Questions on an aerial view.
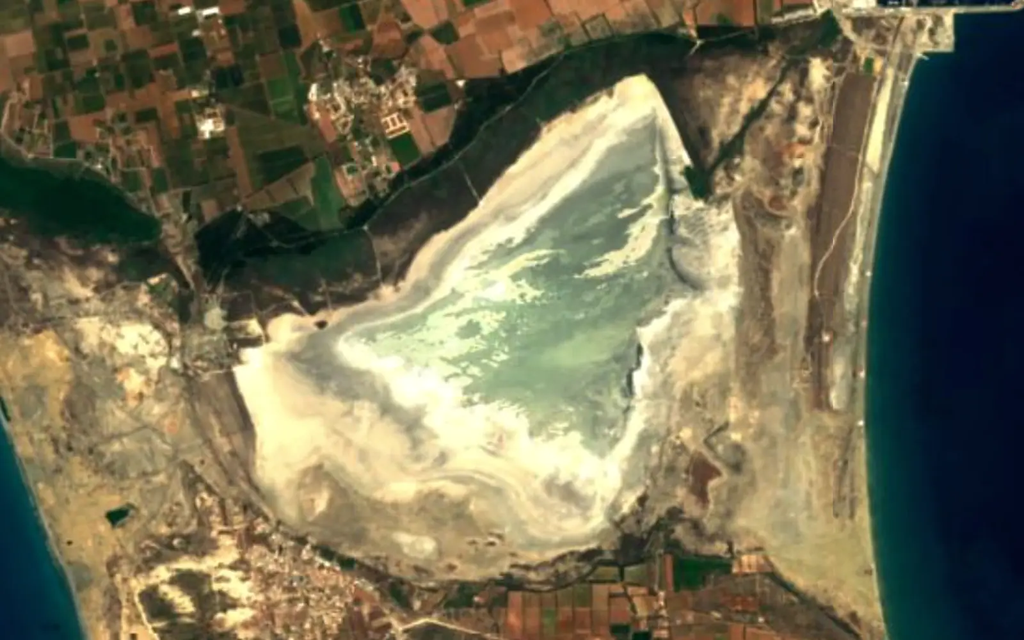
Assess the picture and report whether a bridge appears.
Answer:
No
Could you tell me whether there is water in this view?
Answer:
Yes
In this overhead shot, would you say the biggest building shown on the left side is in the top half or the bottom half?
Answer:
top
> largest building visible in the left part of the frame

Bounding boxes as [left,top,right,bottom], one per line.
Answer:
[382,113,409,139]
